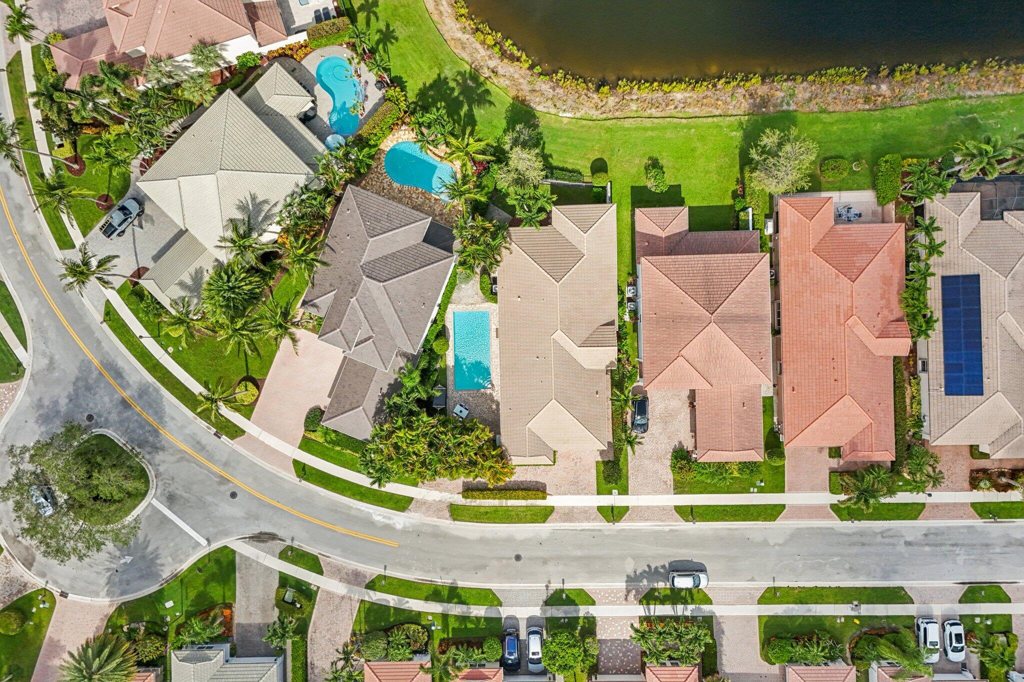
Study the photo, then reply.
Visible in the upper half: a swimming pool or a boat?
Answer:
swimming pool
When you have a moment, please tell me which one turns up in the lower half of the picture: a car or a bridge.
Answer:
car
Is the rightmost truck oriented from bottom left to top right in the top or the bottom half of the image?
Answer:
top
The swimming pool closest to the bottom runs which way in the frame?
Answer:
from top to bottom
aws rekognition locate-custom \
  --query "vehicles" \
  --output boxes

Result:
[669,569,707,590]
[943,619,964,659]
[100,197,144,241]
[631,394,650,434]
[525,627,544,667]
[916,619,940,660]
[501,627,521,668]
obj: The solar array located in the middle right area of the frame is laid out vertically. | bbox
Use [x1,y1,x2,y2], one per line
[942,274,983,395]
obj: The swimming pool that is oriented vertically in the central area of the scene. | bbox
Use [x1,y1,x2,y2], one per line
[452,310,495,397]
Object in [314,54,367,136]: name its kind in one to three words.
swimming pool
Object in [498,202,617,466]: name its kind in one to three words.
house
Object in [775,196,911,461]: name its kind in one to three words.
house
